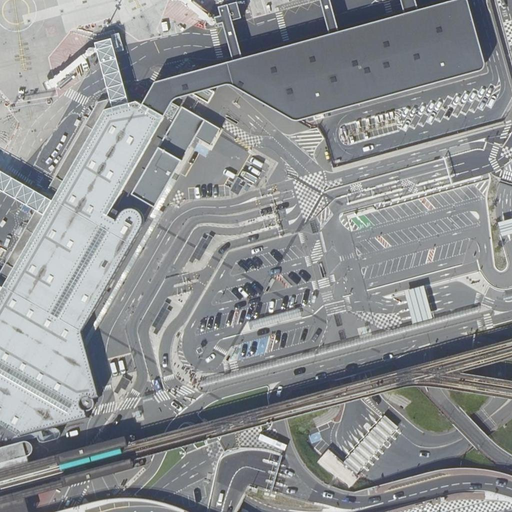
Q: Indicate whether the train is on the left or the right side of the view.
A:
left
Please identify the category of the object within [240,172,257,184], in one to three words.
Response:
vehicle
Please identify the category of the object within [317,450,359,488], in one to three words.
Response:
building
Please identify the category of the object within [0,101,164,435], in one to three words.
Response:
building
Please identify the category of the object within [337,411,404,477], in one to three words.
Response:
toll station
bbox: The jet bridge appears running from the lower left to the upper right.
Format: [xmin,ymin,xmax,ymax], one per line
[45,48,96,90]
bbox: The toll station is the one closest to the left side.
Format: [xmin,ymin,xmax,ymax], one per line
[263,455,290,499]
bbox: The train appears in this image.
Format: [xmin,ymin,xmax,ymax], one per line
[59,448,122,469]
